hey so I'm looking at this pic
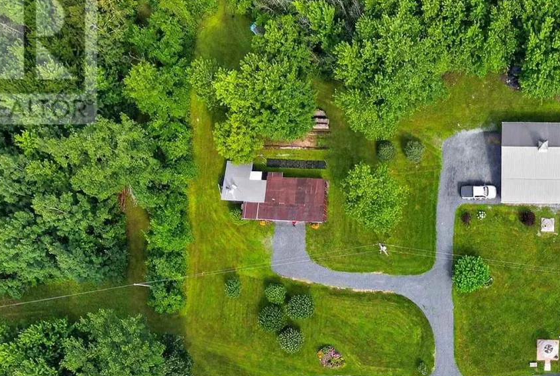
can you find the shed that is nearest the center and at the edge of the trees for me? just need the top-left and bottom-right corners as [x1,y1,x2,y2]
[222,162,329,223]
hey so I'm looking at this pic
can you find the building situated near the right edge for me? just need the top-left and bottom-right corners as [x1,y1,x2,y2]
[502,121,560,206]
